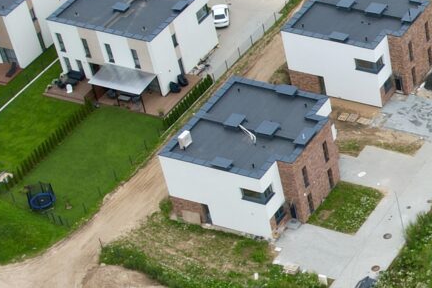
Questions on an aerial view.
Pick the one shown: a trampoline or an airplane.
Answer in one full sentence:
Visible in the photo is a trampoline.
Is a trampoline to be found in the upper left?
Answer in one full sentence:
No, there's no trampoline to be seen in the upper left.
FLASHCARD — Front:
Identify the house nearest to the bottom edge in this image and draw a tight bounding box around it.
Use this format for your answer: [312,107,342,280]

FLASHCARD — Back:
[158,77,339,240]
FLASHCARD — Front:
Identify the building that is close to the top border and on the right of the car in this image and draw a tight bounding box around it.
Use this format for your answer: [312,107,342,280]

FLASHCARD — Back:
[282,0,432,107]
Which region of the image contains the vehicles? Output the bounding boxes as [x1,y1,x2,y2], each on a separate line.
[211,6,230,31]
